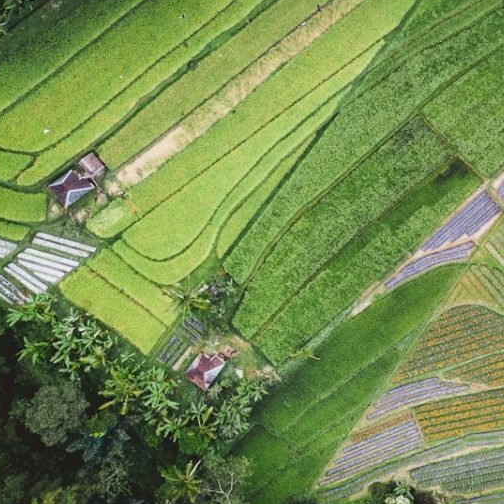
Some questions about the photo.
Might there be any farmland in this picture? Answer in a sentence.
Yes, some farmland is visible.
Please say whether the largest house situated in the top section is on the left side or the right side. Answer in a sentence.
The largest house situated in the top section sits on the left side.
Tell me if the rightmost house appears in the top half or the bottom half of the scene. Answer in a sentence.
The bottom half of the photo is where the rightmost house is.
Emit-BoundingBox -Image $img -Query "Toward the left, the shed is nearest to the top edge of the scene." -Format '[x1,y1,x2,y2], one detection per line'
[78,152,106,176]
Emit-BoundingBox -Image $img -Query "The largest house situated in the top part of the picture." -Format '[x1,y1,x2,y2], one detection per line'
[47,169,97,210]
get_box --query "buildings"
[78,152,106,176]
[184,352,227,392]
[47,169,97,210]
